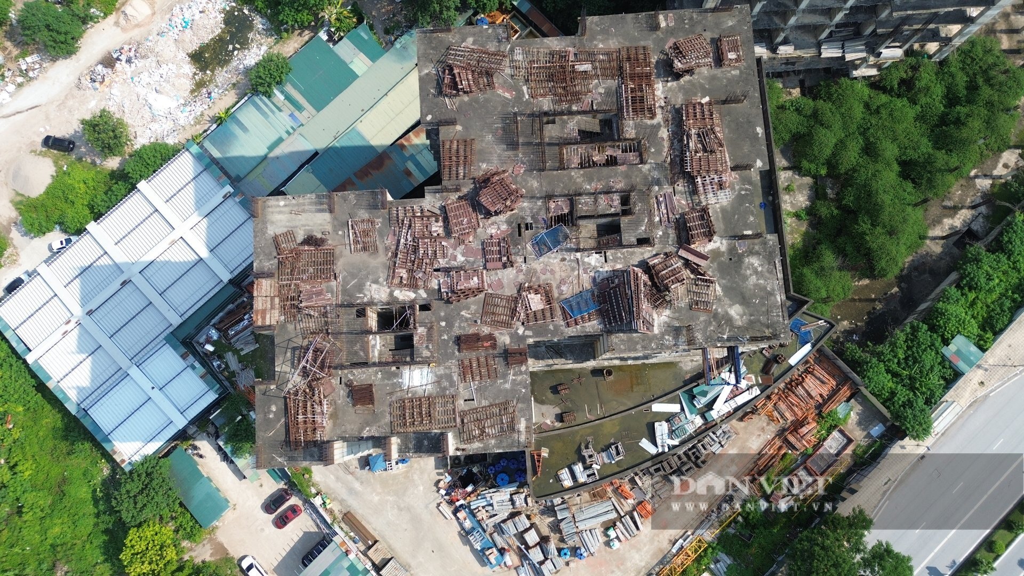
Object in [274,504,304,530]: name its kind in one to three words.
car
